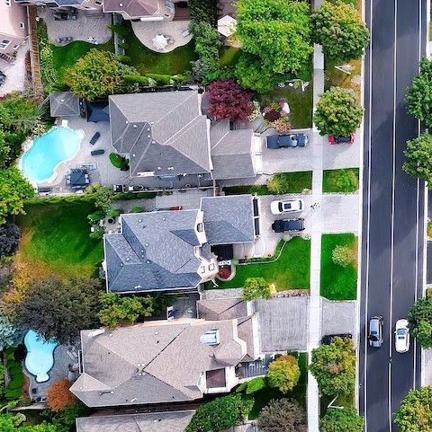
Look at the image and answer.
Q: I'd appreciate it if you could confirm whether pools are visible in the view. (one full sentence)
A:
Yes, I can see a pool in this picture.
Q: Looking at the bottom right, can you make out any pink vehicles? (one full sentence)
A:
No, no pink vehicle is visible at the bottom right.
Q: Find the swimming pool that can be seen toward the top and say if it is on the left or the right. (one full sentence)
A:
It is on the left.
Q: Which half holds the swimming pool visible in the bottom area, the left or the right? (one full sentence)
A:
You can find the swimming pool visible in the bottom area on the left side of the picture.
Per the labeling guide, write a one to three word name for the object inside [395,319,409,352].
car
